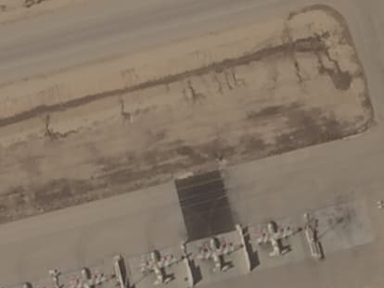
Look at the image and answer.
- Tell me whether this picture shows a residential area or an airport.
airport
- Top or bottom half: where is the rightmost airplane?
bottom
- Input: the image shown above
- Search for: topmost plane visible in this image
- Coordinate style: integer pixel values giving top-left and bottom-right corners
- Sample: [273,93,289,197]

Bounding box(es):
[251,225,297,254]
